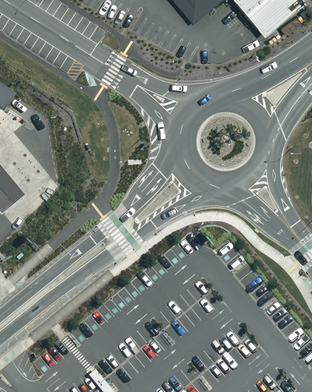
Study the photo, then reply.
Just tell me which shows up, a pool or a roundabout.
roundabout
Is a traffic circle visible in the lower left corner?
No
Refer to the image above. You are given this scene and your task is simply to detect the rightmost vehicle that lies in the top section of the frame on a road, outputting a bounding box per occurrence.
[261,62,278,74]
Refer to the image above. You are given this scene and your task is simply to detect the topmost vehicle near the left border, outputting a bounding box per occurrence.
[12,100,27,112]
